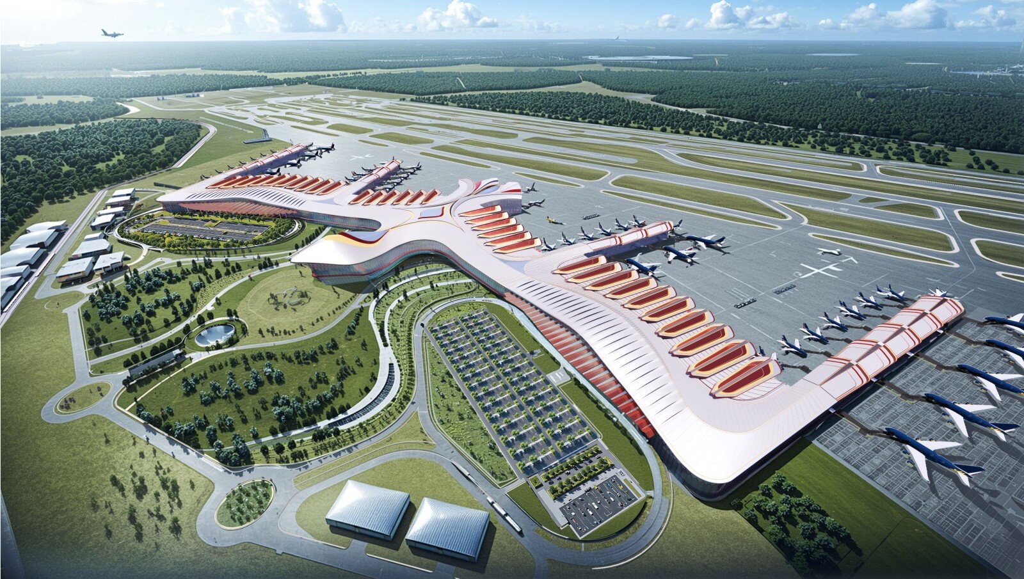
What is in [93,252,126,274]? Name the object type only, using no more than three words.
building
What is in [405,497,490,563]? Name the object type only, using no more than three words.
hangar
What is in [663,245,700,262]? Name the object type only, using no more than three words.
airplane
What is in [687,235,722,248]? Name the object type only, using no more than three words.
airplane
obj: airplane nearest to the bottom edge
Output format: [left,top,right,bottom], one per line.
[886,427,985,482]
